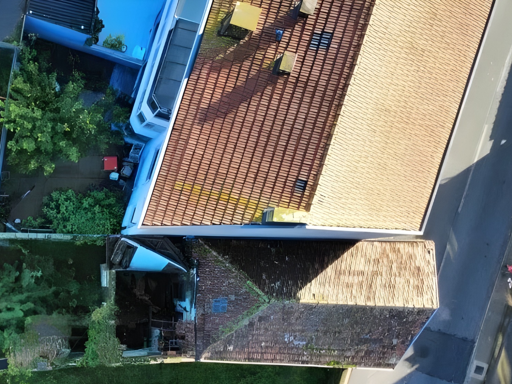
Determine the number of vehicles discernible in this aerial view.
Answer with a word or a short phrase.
zero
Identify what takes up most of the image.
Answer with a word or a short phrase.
buildings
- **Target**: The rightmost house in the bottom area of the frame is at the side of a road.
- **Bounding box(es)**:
[180,231,441,371]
